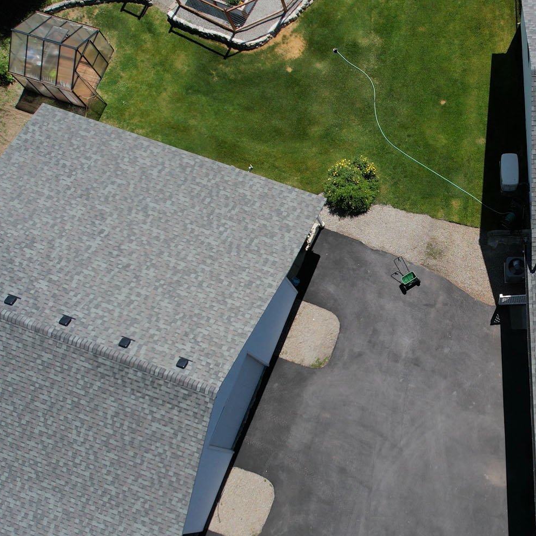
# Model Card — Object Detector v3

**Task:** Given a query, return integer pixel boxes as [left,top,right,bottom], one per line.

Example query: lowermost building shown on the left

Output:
[0,101,330,536]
